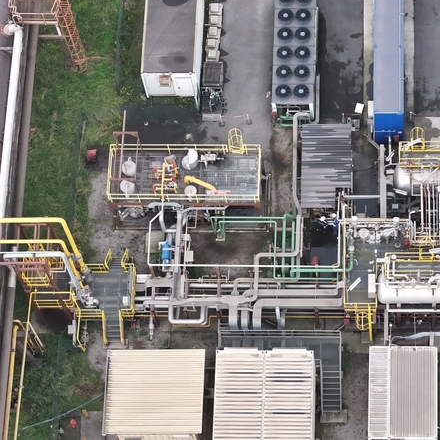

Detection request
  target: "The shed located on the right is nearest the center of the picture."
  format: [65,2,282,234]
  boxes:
[300,123,355,223]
